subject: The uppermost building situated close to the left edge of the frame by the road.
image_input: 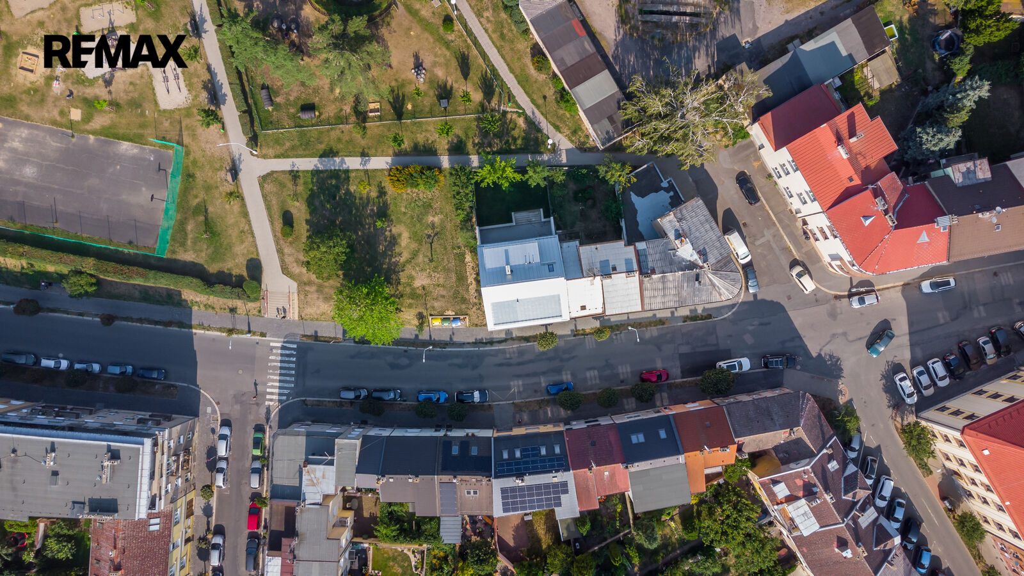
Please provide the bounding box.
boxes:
[0,397,199,521]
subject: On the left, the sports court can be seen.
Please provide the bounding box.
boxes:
[0,116,173,246]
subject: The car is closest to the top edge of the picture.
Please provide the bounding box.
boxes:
[735,171,760,205]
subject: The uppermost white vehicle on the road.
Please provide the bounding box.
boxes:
[724,227,750,265]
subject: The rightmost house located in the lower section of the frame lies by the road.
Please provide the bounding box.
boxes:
[917,362,1024,576]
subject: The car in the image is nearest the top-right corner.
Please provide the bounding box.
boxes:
[918,277,955,293]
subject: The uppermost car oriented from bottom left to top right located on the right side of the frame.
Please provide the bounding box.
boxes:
[865,329,897,357]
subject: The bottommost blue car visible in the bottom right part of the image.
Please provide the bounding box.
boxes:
[914,544,932,574]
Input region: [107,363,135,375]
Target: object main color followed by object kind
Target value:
blue vehicle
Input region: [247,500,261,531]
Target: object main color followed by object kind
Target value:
red car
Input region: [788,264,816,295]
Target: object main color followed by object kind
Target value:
white car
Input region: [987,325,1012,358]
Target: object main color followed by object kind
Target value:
black car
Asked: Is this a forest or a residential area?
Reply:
residential area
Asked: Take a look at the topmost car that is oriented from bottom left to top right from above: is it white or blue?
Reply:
blue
